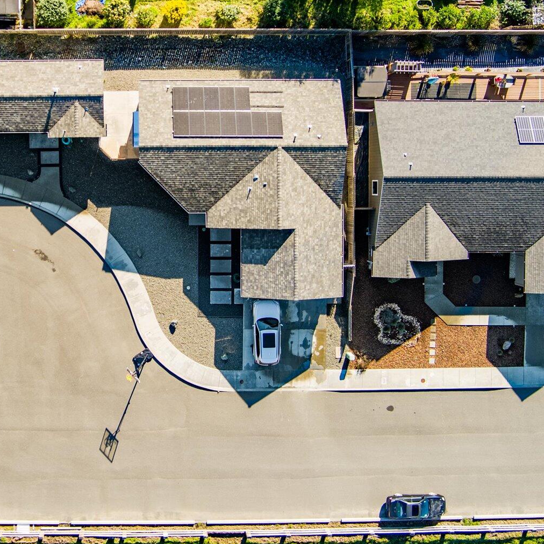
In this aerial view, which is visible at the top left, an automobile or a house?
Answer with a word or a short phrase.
house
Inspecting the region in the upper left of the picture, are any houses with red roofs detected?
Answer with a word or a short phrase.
No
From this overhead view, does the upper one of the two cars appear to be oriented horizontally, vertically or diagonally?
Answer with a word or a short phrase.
vertically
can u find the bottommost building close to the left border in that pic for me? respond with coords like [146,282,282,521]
[0,57,107,137]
